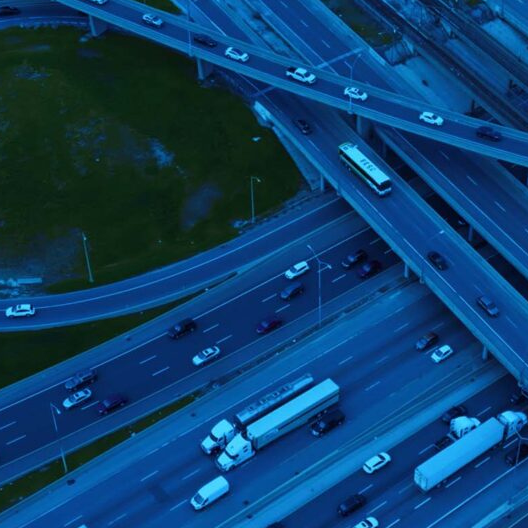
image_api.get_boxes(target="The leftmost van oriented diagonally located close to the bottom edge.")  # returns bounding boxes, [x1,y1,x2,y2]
[190,472,232,508]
